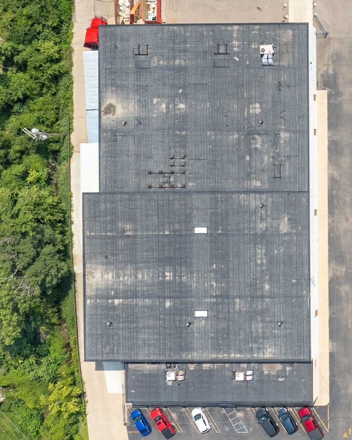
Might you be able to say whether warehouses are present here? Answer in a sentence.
Yes, a warehouse can be made out from above.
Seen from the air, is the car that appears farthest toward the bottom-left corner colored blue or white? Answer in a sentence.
The car that appears farthest toward the bottom-left corner looks blue in the image.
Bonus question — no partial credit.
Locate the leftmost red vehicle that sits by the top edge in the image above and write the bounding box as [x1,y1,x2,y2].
[79,16,110,50]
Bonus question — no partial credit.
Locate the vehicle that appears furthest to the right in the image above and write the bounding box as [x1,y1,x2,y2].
[298,407,325,440]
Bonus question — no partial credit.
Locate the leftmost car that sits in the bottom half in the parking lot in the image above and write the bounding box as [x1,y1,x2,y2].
[131,408,152,438]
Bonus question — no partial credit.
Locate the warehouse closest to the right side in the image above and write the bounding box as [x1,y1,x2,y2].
[81,23,319,406]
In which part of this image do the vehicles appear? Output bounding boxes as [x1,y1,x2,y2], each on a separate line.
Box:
[257,407,280,438]
[298,407,325,440]
[191,407,211,436]
[279,407,299,436]
[150,407,177,440]
[131,408,152,438]
[79,16,110,50]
